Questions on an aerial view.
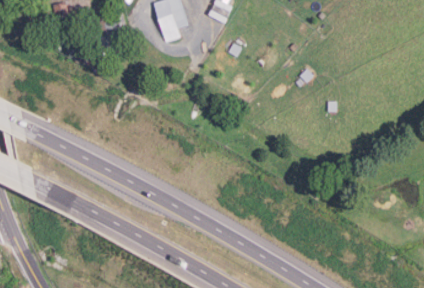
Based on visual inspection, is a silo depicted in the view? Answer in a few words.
No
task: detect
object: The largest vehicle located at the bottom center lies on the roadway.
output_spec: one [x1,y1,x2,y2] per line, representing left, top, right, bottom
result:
[166,254,186,268]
